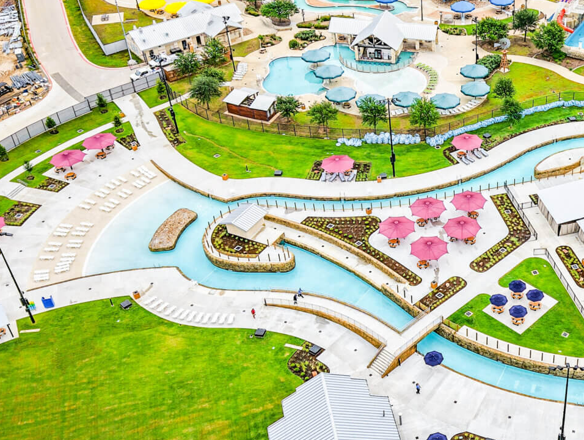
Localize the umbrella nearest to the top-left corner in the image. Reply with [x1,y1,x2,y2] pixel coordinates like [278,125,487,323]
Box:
[138,0,168,16]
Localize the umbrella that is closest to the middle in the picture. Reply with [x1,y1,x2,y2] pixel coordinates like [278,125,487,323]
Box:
[321,156,355,180]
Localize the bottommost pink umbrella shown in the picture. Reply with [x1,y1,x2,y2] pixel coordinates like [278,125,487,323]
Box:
[409,237,449,267]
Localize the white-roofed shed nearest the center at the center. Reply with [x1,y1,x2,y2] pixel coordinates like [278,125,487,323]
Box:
[219,203,266,243]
